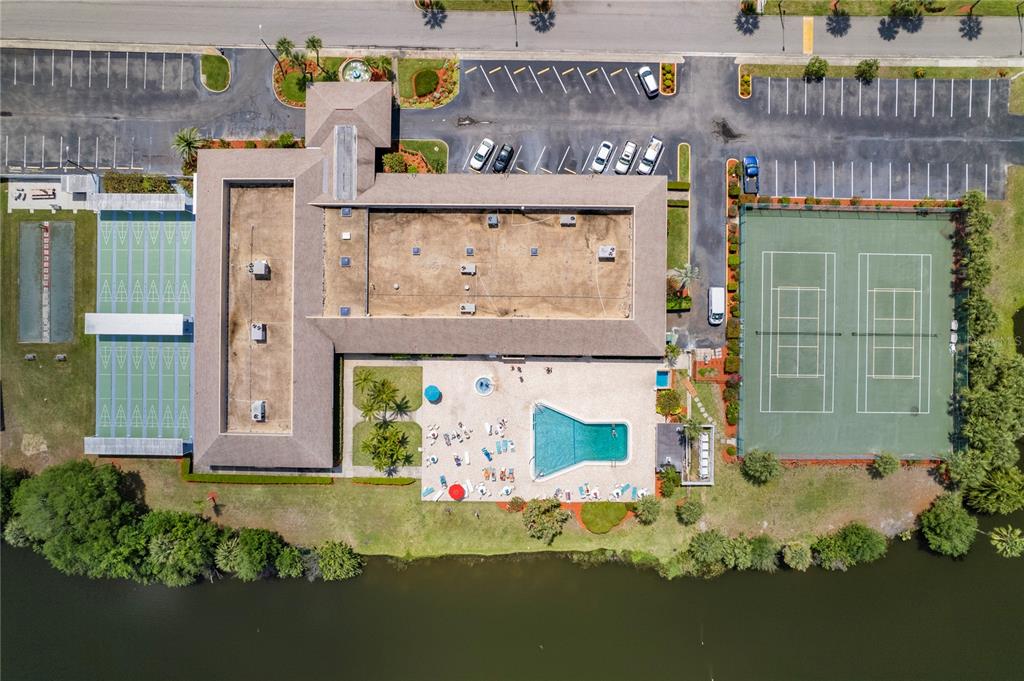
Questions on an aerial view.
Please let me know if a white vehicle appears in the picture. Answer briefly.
Yes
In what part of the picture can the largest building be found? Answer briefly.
center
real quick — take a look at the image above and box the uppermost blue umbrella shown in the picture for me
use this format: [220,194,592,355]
[425,385,440,401]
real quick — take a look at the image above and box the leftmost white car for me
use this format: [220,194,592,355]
[471,137,494,171]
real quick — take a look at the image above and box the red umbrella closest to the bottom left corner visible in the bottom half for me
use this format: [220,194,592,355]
[449,483,464,499]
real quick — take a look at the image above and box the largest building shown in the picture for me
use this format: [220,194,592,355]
[193,82,667,468]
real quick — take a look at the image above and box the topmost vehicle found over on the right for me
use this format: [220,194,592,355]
[638,66,660,97]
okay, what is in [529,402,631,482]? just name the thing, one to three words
swimming pool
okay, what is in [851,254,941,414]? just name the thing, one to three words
tennis court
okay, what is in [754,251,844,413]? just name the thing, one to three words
tennis court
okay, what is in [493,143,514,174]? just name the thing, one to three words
car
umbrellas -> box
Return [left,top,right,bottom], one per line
[449,483,464,499]
[425,385,440,401]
